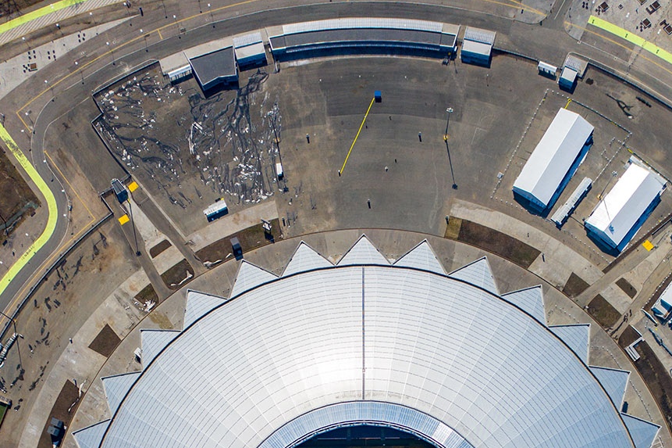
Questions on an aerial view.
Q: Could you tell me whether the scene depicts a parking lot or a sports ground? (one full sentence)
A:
This image shows a sports ground.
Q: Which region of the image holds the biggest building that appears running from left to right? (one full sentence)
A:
You can find the biggest building that appears running from left to right in the top area of the picture.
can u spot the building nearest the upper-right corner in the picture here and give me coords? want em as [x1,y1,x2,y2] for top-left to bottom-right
[559,53,590,87]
